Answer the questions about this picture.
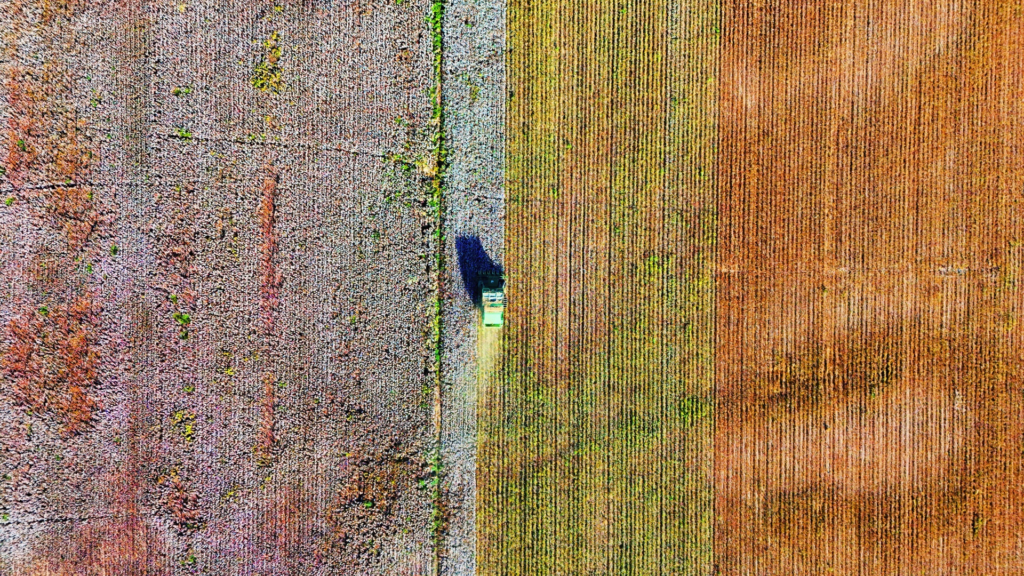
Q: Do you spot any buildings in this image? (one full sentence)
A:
No, the frame has no building in it.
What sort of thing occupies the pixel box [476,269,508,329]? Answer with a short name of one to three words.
work vehicle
